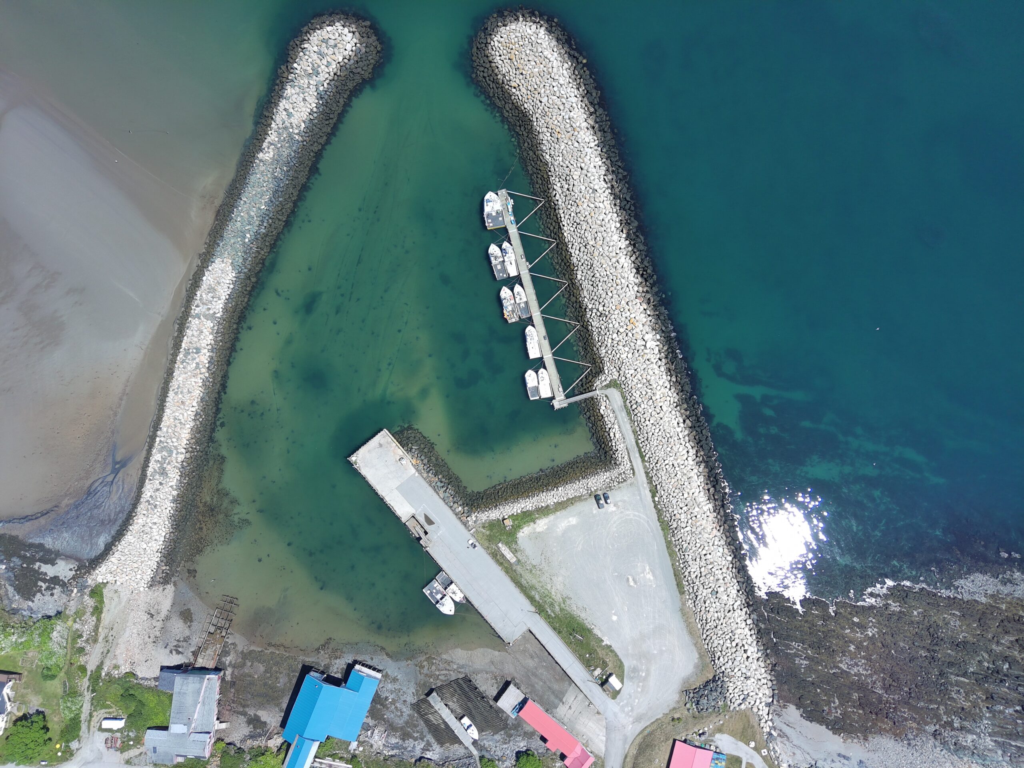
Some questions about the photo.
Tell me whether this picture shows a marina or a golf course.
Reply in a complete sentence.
What you see here is a marina.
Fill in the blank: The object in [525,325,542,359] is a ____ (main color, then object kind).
white boat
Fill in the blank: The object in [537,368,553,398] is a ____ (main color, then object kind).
white boat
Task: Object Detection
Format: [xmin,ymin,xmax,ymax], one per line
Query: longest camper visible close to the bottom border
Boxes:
[102,718,131,730]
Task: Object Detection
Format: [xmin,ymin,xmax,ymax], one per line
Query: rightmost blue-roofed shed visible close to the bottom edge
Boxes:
[282,662,382,768]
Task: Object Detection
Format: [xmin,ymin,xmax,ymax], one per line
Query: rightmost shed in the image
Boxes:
[667,739,713,768]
